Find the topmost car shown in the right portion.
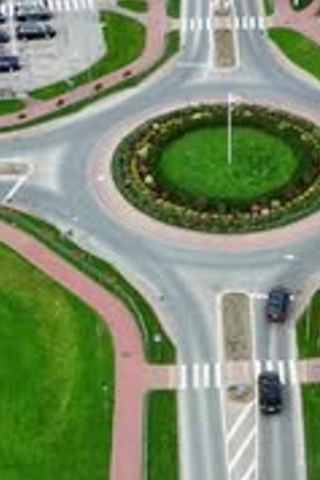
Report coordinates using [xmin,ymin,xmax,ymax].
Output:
[266,288,289,323]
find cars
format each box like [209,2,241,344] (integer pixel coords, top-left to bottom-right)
[0,12,7,24]
[16,23,55,39]
[0,55,22,72]
[15,3,51,19]
[266,288,289,323]
[0,30,9,44]
[257,372,283,416]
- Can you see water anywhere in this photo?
No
